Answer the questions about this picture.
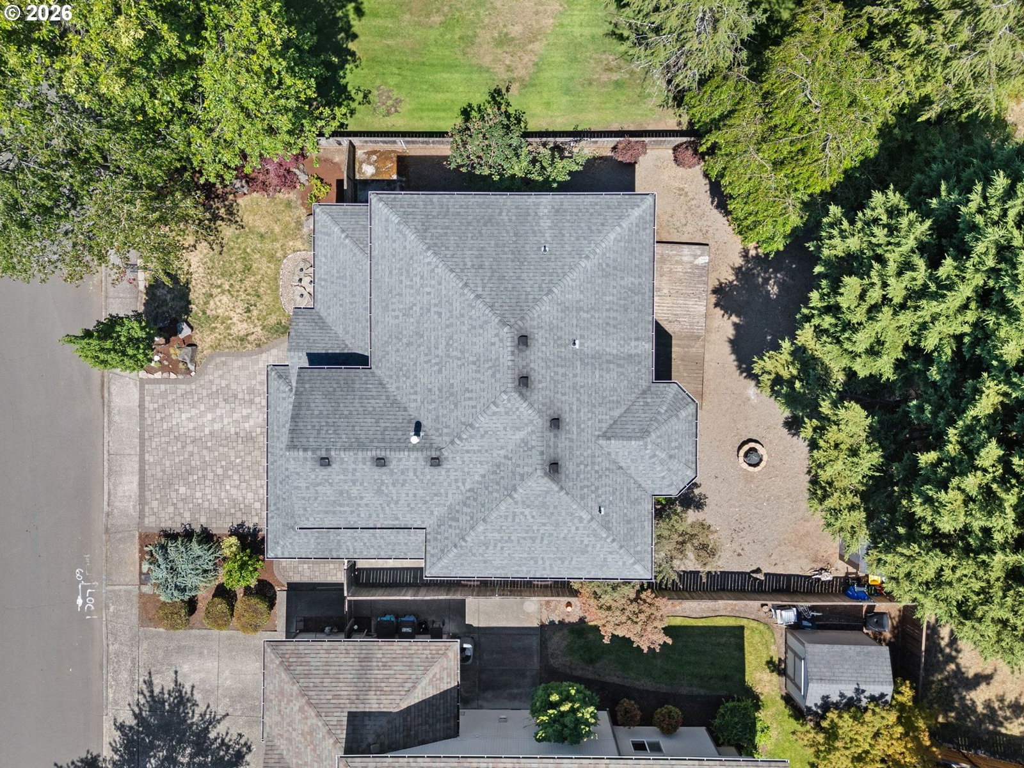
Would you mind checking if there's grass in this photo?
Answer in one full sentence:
Yes, grass can be seen from above here.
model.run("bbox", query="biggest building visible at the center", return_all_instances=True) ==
[267,192,697,580]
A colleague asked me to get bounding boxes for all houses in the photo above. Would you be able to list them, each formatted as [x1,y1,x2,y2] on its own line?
[263,626,786,768]
[267,192,697,580]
